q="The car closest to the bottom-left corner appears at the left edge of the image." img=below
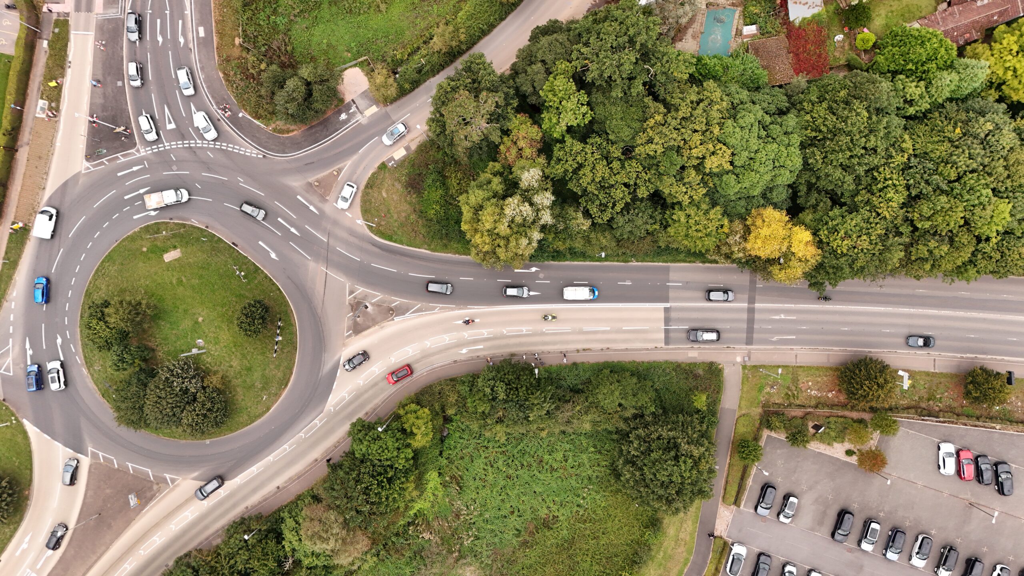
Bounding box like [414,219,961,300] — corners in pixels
[43,520,71,553]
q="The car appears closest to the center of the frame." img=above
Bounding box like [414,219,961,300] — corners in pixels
[503,285,530,300]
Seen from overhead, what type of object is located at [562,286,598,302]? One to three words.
vehicle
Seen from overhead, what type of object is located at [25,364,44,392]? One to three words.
car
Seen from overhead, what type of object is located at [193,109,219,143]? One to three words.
car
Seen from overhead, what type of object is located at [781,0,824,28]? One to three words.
shed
